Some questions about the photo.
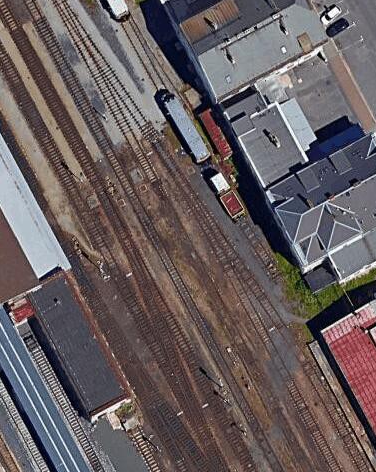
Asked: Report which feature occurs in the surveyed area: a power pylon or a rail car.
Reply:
rail car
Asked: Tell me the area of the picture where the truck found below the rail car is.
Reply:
center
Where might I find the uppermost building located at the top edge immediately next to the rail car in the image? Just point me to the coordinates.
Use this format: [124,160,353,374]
[181,0,329,105]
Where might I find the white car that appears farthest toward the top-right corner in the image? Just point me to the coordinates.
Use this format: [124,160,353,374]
[319,7,342,24]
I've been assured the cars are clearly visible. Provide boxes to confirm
[325,18,350,37]
[319,7,342,24]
